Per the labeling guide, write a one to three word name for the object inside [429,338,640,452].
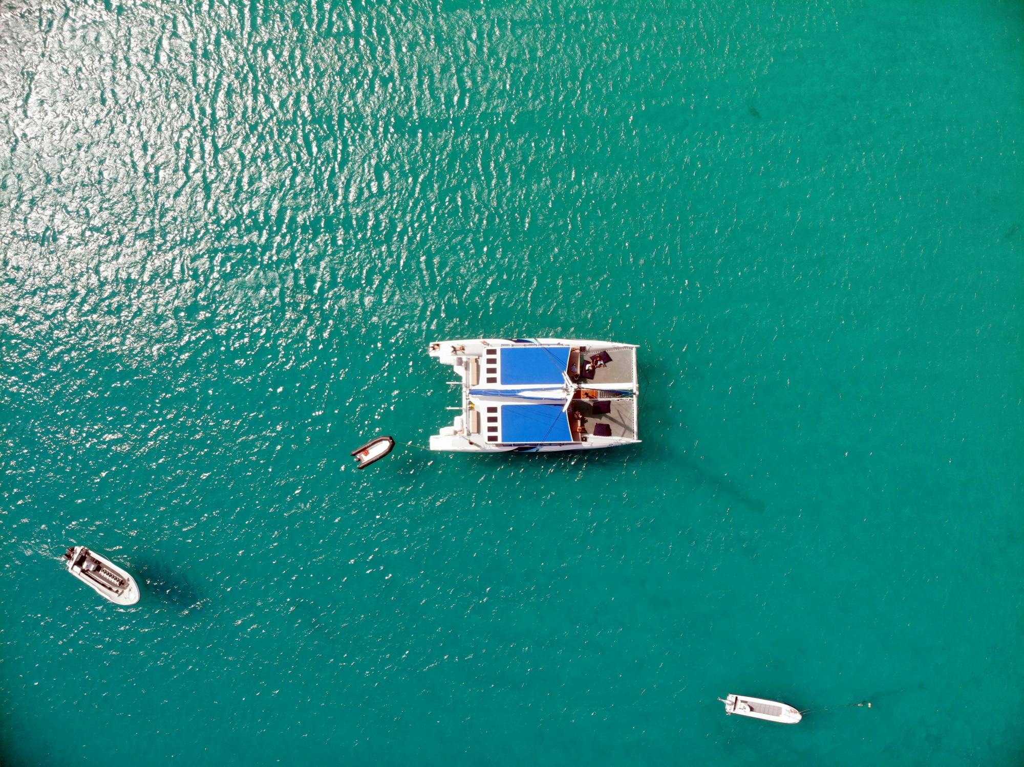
boat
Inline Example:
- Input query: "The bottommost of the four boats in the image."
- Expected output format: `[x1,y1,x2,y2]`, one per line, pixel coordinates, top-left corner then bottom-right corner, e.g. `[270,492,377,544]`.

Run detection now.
[717,693,802,724]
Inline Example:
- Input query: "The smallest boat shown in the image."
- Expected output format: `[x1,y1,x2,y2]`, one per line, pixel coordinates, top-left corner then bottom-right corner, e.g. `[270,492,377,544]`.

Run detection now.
[350,436,395,468]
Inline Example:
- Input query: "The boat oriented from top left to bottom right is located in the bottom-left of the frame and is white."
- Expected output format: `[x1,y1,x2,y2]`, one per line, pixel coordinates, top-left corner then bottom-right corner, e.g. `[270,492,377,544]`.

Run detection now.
[64,544,143,606]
